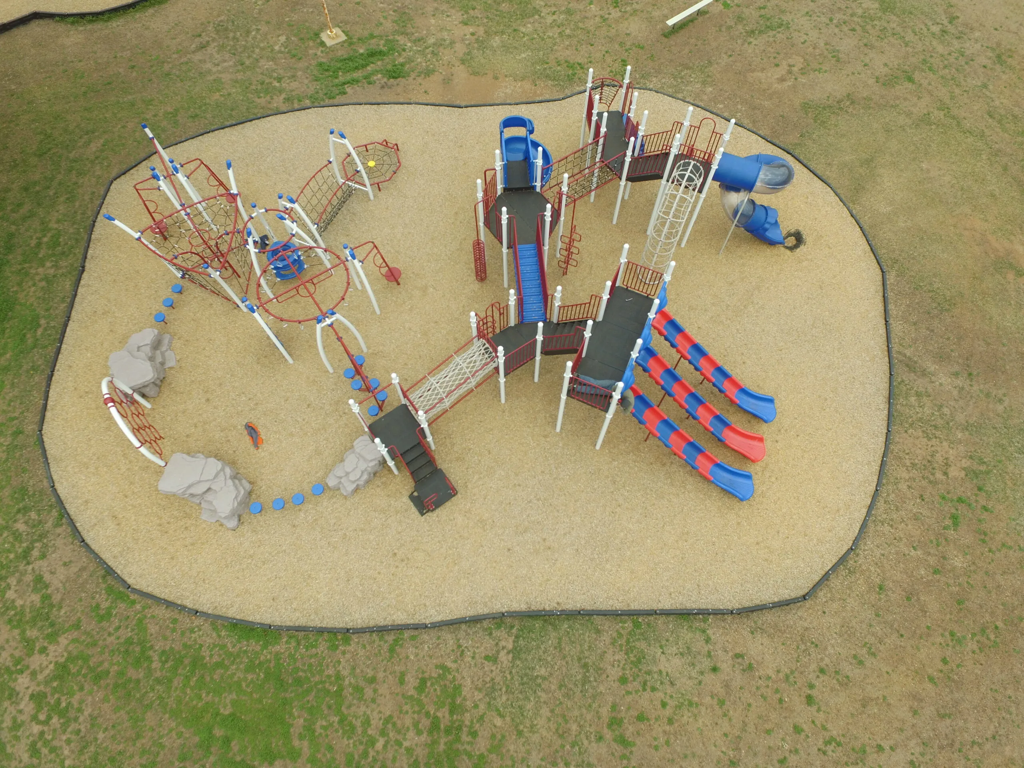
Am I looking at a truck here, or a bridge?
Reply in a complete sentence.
It is a bridge that can be seen here.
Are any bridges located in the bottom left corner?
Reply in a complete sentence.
No, there's no bridge to be seen in the bottom left corner.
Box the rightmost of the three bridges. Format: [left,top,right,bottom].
[539,135,626,213]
